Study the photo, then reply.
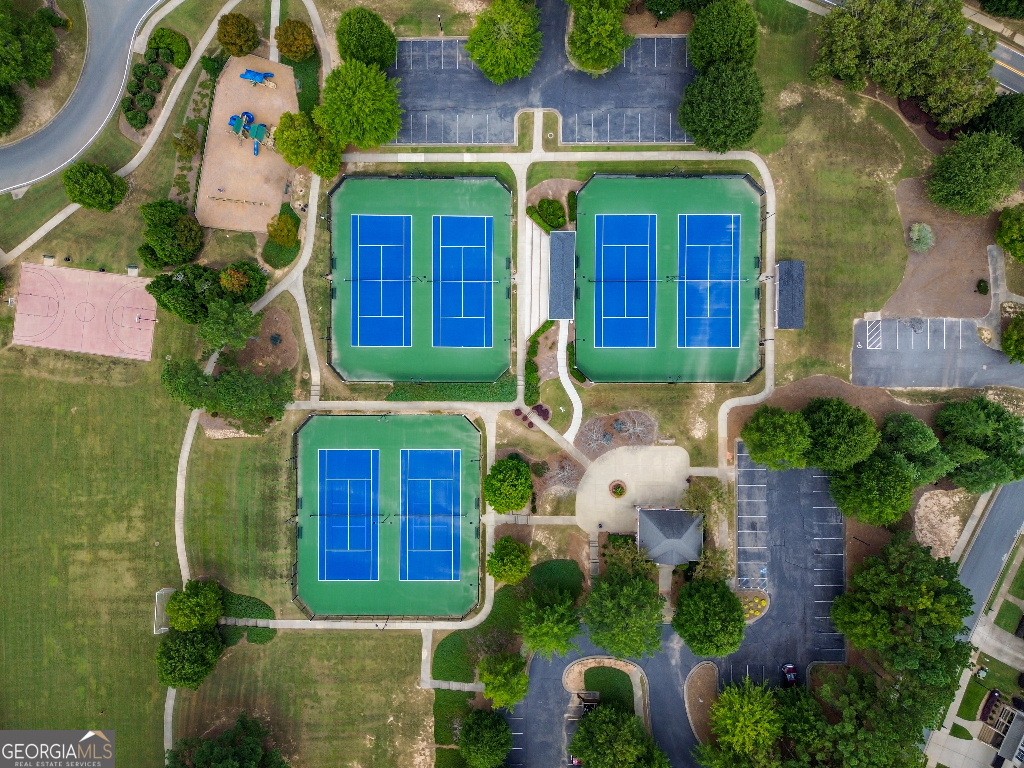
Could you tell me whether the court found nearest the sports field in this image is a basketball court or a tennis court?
basketball court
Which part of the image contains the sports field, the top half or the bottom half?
bottom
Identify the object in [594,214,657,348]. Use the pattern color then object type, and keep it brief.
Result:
blue tennis court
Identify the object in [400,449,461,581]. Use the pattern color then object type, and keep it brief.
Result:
blue tennis court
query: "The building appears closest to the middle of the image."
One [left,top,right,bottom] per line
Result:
[548,230,576,321]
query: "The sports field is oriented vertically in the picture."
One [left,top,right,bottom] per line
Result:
[0,367,183,768]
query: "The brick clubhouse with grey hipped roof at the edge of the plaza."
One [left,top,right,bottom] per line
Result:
[635,505,703,567]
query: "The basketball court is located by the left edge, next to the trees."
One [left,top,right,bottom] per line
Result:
[12,262,157,361]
